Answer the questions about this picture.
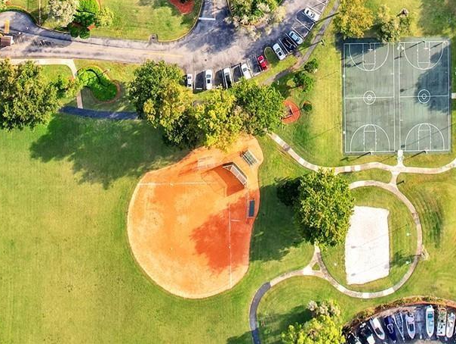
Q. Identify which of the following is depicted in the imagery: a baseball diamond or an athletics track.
baseball diamond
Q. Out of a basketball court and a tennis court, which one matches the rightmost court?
basketball court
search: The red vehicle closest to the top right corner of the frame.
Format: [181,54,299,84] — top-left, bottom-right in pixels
[255,52,271,73]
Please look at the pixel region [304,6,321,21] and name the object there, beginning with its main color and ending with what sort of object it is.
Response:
white car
